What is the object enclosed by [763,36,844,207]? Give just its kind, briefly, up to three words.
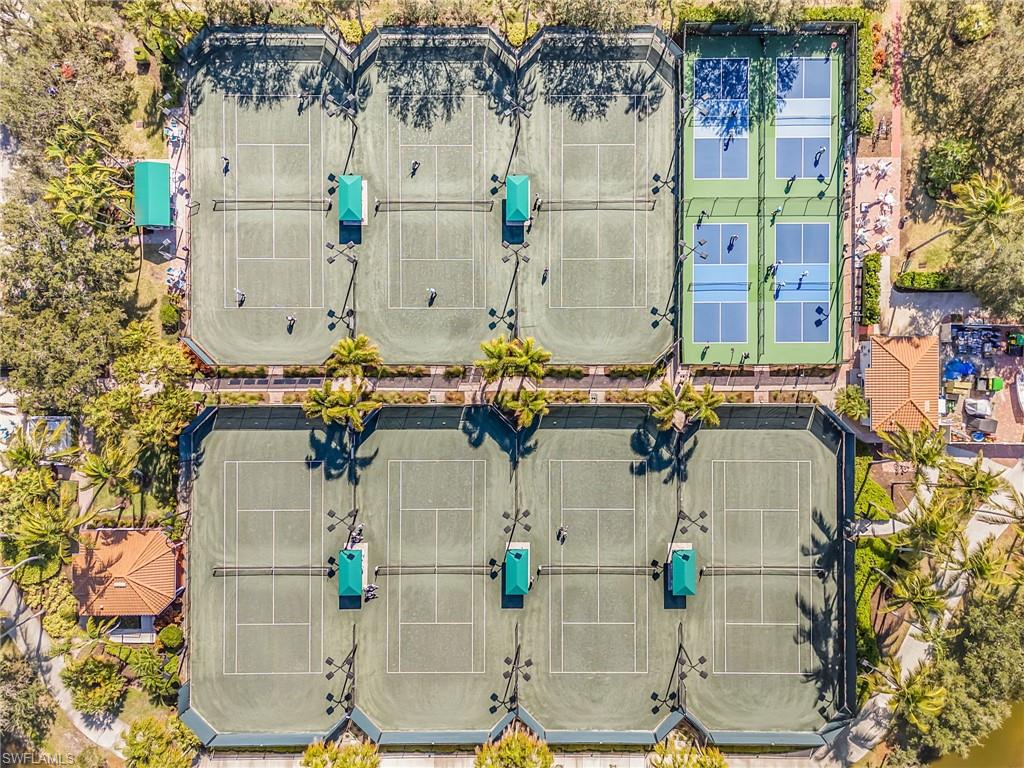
sports court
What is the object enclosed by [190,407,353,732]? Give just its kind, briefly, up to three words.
tennis court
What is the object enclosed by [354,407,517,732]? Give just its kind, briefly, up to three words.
tennis court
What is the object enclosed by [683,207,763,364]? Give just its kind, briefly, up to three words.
sports court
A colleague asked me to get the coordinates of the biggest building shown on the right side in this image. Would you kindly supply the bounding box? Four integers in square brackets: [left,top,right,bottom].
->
[862,335,940,432]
